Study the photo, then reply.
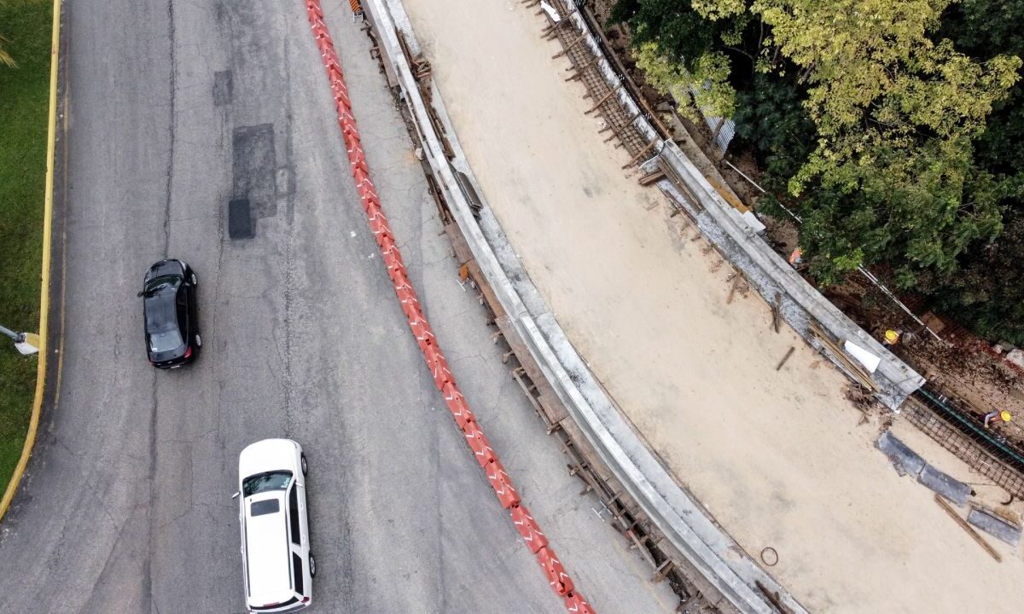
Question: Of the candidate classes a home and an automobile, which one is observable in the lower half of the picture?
automobile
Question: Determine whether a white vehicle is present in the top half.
No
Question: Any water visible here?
No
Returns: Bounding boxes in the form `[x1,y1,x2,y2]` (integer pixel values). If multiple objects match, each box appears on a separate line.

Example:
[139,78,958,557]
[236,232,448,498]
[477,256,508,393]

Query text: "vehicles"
[132,255,205,373]
[230,437,314,614]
